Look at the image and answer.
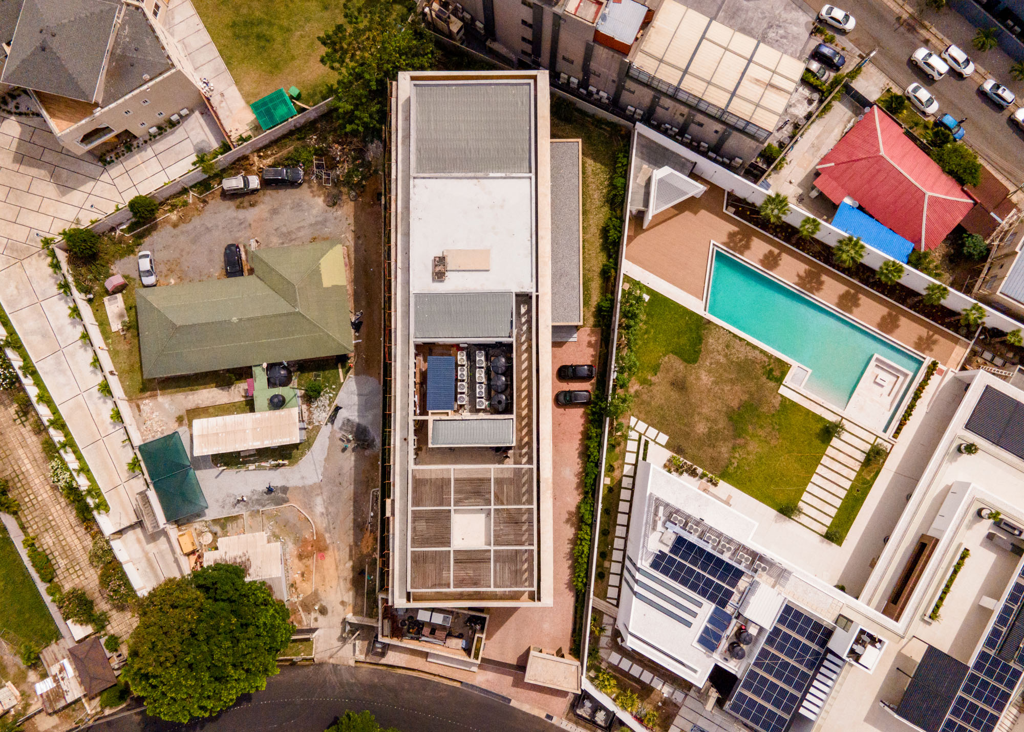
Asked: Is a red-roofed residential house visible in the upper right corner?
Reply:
Yes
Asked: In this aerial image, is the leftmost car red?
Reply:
No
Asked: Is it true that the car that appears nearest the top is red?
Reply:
No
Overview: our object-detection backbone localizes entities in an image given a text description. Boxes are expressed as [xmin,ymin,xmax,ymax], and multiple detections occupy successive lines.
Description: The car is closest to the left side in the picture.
[138,249,159,288]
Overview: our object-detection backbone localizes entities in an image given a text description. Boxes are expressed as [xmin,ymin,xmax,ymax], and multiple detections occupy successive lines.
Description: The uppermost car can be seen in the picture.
[817,5,856,34]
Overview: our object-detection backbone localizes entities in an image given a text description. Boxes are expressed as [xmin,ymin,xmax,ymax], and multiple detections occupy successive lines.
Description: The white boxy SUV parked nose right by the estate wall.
[220,173,261,195]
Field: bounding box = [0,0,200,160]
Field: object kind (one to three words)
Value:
house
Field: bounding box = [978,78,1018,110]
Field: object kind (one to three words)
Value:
car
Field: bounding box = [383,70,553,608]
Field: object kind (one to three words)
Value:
building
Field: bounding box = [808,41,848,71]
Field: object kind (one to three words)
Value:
car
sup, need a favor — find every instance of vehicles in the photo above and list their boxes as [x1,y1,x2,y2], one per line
[554,388,593,407]
[557,362,596,381]
[903,82,939,117]
[940,45,973,77]
[933,111,967,142]
[225,242,245,277]
[802,56,834,83]
[808,41,848,71]
[138,249,159,288]
[817,5,856,34]
[220,173,261,195]
[259,165,304,186]
[909,48,949,80]
[978,78,1018,110]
